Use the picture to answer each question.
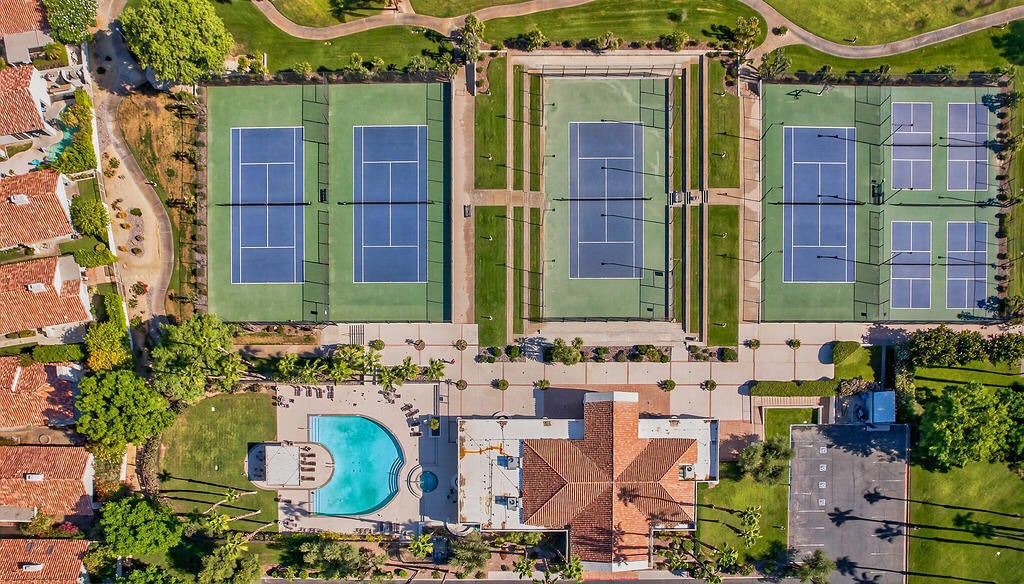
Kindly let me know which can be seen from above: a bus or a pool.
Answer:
pool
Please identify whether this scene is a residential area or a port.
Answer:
residential area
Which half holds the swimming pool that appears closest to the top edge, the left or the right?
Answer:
left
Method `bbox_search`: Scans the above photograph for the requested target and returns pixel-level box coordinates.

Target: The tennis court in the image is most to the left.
[207,85,329,322]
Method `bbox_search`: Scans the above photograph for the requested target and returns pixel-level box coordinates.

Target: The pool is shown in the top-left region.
[44,100,77,162]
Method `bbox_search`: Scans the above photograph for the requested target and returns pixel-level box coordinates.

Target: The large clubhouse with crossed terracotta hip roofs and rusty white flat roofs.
[457,392,719,569]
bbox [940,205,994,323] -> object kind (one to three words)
sports court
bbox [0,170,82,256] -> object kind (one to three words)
house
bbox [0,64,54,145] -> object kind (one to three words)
house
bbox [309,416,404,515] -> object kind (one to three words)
swimming pool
